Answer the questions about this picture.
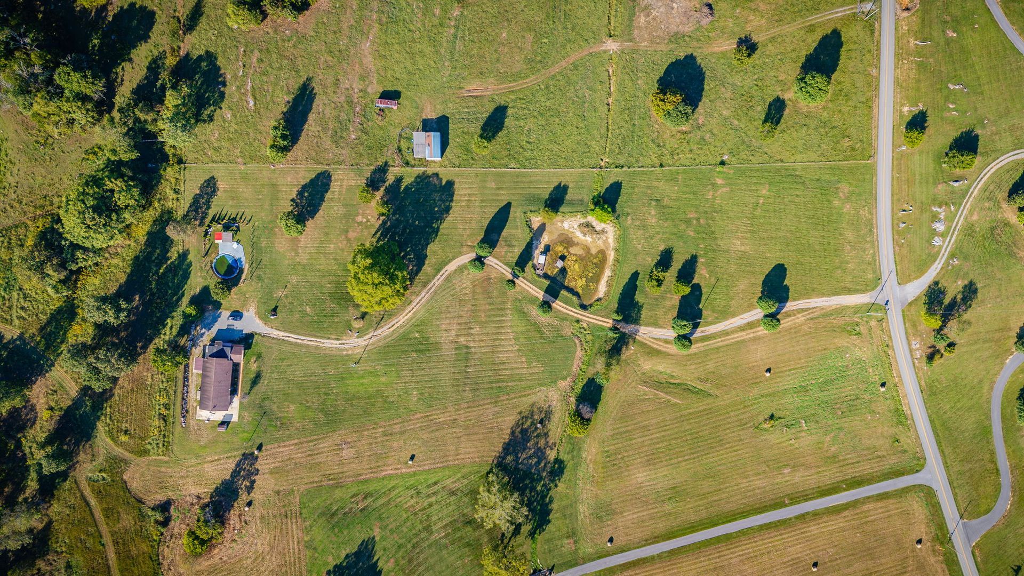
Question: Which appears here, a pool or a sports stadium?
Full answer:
Of the two, only a pool appears.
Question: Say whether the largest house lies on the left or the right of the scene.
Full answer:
The largest house appears in the left half of the scene.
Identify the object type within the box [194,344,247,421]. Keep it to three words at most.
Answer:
house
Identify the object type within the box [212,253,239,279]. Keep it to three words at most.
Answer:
swimming pool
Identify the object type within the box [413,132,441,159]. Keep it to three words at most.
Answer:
barn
